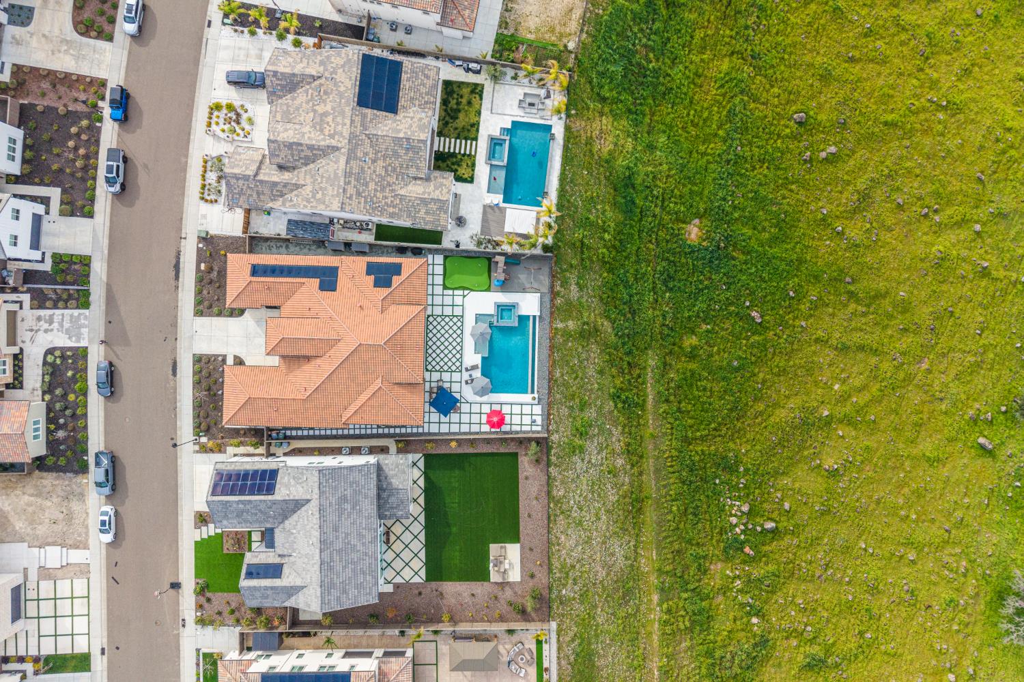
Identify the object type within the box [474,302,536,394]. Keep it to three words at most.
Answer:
swimming pool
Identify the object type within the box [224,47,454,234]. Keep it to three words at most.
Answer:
house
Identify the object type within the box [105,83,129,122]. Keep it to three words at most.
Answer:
car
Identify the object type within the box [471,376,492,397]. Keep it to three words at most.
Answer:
umbrella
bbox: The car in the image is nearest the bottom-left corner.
[94,506,116,546]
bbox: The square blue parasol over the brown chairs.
[429,386,461,418]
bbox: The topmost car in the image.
[119,0,144,33]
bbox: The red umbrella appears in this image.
[486,409,506,428]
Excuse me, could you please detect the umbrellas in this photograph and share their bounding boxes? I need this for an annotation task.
[429,386,461,418]
[470,323,493,345]
[486,409,506,428]
[471,376,492,397]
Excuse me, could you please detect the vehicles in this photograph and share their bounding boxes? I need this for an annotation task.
[119,0,144,33]
[226,67,266,88]
[92,360,113,398]
[90,450,114,497]
[100,145,126,194]
[94,506,116,546]
[105,83,129,122]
